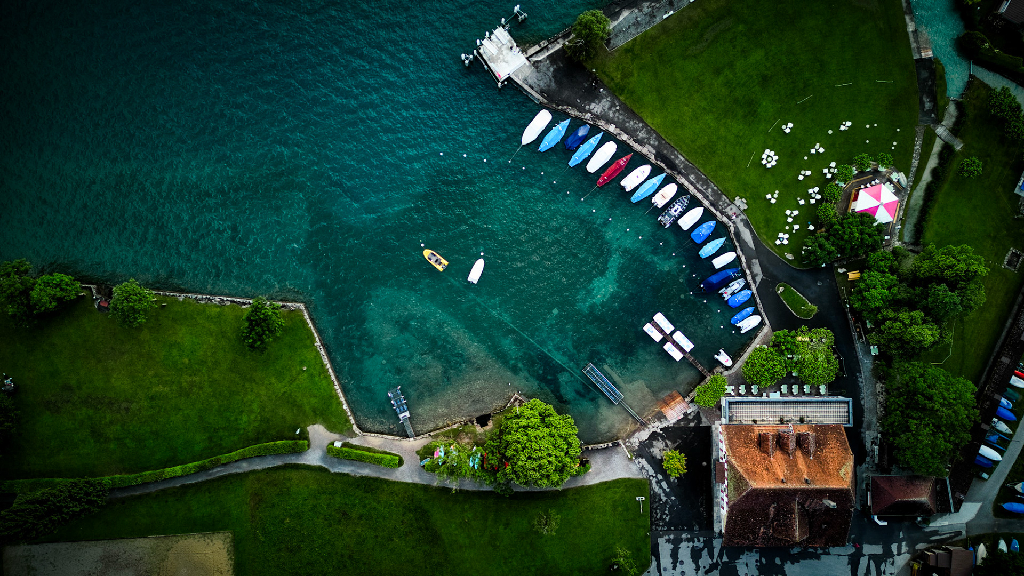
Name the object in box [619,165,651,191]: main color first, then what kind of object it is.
white boat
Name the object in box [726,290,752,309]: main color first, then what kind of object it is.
blue boat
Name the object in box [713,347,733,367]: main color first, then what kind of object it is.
white boat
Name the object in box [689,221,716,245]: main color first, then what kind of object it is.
blue boat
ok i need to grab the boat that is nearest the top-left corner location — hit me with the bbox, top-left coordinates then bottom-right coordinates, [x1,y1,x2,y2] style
[423,250,448,271]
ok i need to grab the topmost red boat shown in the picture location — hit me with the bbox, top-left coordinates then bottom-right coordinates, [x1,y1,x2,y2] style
[596,153,633,188]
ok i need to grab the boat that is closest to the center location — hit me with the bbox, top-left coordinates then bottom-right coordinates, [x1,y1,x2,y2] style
[468,258,484,285]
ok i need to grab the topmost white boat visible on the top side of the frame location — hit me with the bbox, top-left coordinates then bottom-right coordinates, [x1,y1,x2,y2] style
[521,107,551,145]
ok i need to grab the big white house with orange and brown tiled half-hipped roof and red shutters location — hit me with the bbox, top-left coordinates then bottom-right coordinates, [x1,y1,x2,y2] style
[710,396,860,546]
